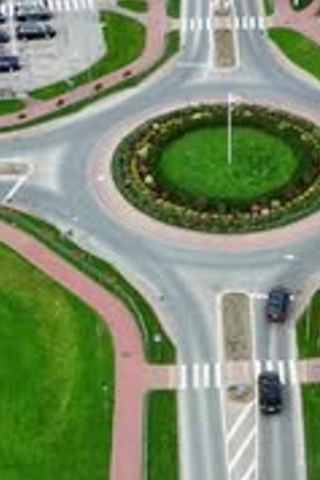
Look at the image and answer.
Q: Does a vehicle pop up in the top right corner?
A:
No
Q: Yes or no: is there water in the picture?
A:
No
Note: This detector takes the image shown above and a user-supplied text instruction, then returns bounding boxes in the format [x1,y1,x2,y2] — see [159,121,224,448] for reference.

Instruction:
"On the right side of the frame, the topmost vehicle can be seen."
[266,288,289,323]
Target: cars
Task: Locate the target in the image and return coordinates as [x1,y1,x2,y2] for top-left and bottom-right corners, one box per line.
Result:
[16,23,55,39]
[257,372,283,416]
[15,3,51,19]
[266,288,289,323]
[0,55,22,72]
[0,12,7,24]
[0,30,9,44]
